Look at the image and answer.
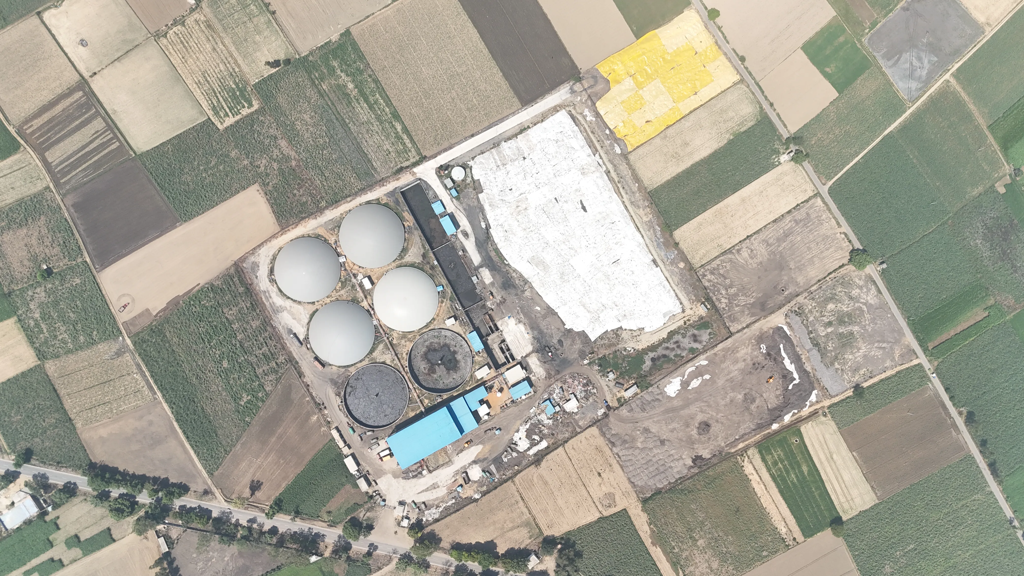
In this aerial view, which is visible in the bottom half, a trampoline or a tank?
tank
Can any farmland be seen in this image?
Yes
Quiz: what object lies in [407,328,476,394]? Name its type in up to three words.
storage tank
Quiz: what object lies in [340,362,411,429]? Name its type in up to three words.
storage tank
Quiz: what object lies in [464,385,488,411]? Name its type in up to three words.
shed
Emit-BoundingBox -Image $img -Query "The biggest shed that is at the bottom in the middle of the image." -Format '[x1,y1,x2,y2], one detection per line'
[387,404,462,469]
